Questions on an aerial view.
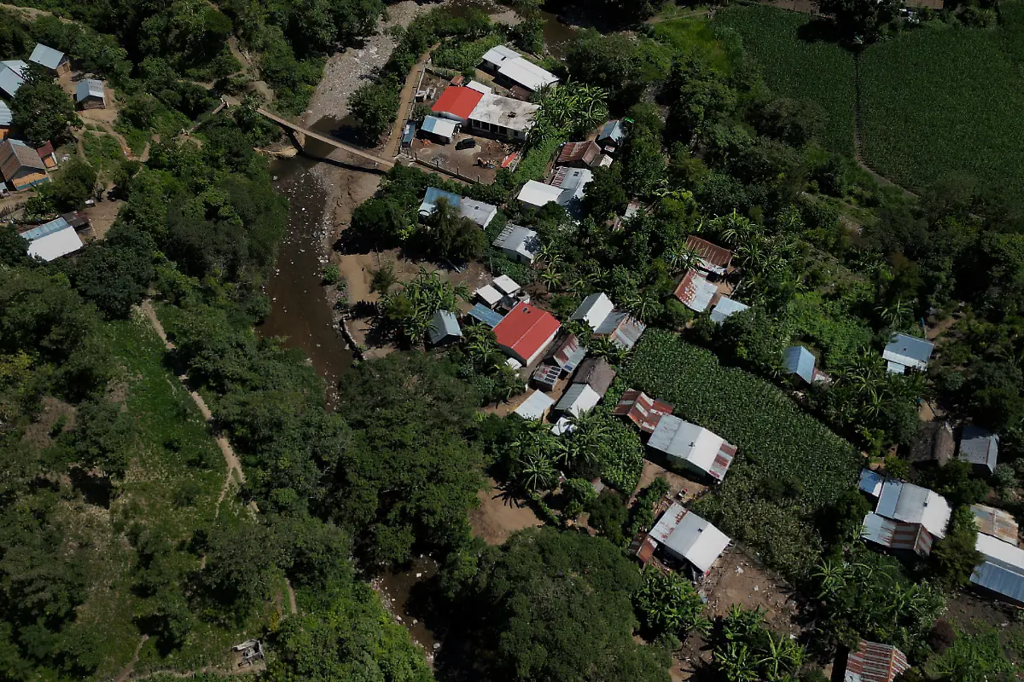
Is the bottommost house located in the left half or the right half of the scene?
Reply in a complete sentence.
The bottommost house sits on the right side.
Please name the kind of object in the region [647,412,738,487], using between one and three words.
house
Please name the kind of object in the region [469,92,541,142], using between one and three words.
building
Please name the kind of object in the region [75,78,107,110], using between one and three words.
house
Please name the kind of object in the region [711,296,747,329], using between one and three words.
shed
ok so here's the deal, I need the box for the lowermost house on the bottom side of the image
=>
[845,640,908,682]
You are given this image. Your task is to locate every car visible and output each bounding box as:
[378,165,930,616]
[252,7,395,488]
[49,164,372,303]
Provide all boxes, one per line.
[454,137,476,150]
